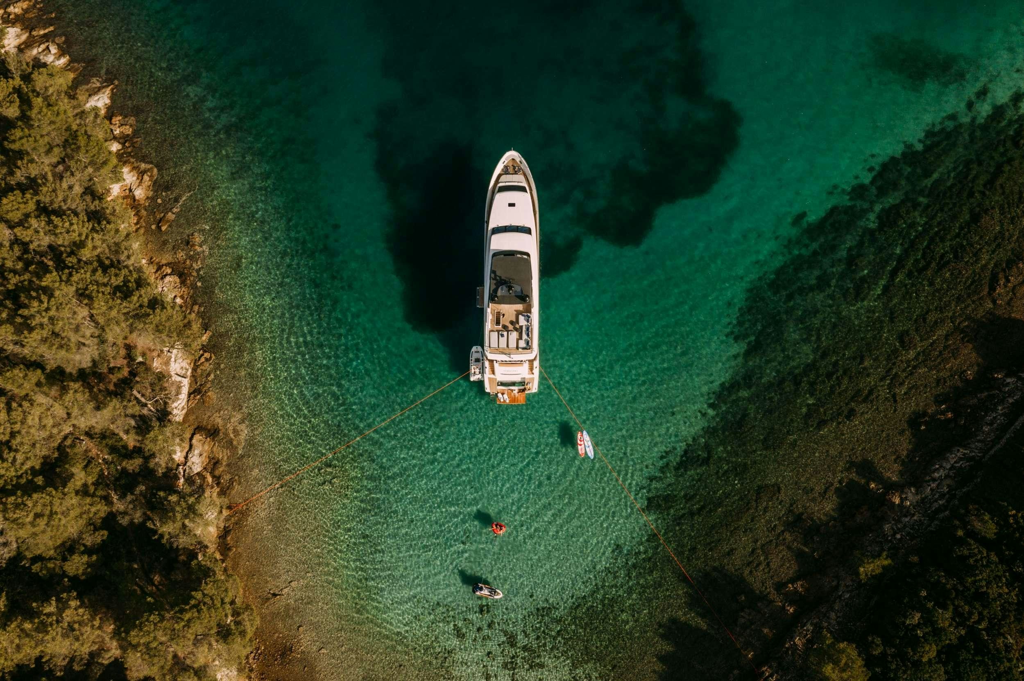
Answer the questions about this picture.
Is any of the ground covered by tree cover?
Yes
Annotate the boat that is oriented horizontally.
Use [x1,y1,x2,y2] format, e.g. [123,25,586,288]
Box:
[471,584,503,599]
